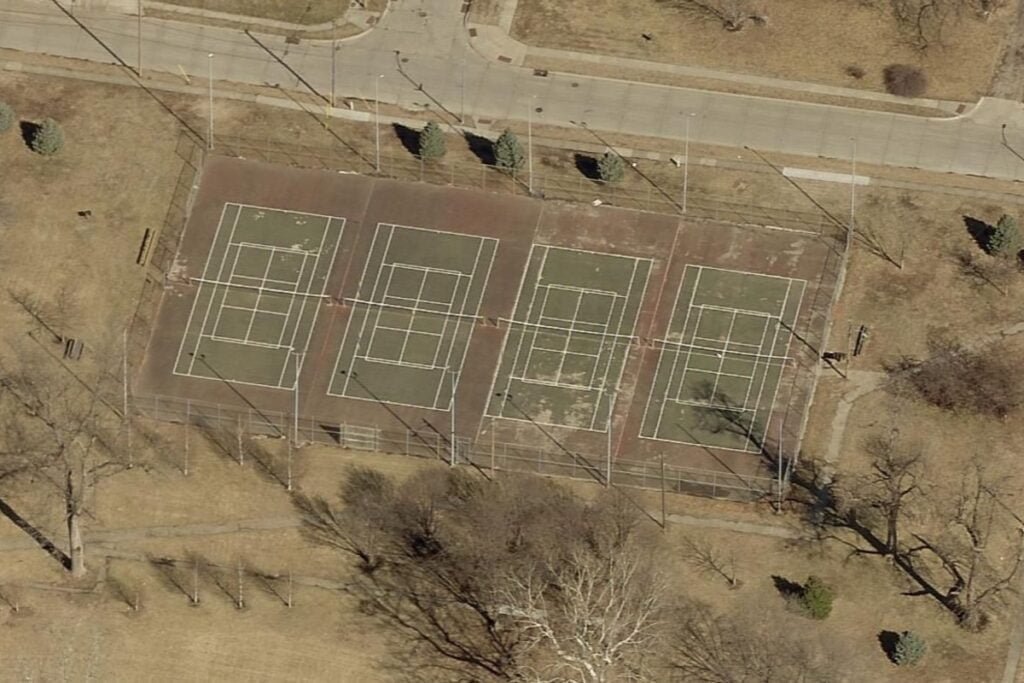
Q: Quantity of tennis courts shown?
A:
4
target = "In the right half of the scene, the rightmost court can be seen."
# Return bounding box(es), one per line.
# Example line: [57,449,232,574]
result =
[614,221,845,500]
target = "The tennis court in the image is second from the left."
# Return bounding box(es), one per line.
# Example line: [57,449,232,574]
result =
[302,180,546,457]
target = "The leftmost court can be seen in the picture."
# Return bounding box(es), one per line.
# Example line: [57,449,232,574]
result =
[132,157,376,434]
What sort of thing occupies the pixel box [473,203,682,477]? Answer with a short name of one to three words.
tennis court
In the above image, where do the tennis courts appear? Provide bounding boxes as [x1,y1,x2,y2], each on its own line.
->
[473,203,682,477]
[614,221,845,500]
[302,180,546,457]
[132,157,376,434]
